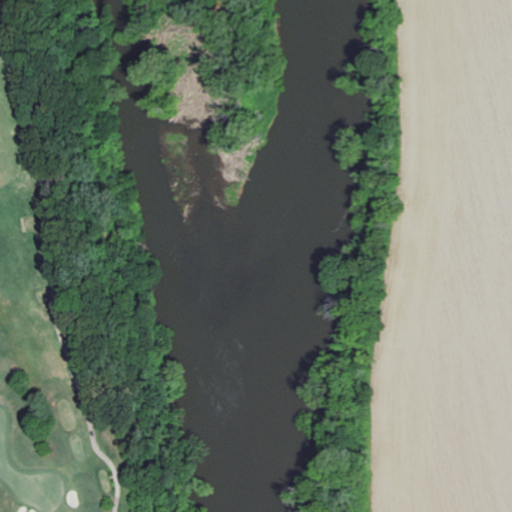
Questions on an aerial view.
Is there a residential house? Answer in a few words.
No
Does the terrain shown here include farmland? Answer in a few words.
Yes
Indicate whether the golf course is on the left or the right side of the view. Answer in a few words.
left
